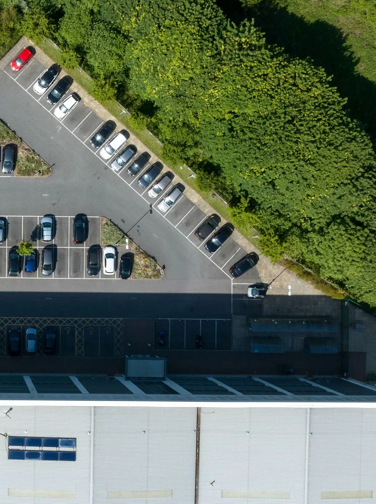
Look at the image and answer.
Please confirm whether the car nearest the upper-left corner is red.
Yes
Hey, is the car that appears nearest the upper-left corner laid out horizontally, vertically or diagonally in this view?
diagonally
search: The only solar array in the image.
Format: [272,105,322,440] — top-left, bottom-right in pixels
[8,436,77,463]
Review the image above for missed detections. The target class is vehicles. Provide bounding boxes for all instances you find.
[24,252,36,274]
[7,248,21,276]
[47,75,74,105]
[2,146,14,174]
[127,150,152,176]
[111,144,137,171]
[25,328,36,353]
[157,185,185,213]
[194,214,221,241]
[101,129,130,160]
[137,161,164,189]
[229,252,259,278]
[0,219,6,244]
[33,63,61,94]
[9,46,35,73]
[205,223,235,252]
[41,217,54,243]
[147,173,173,199]
[90,119,117,148]
[102,246,116,275]
[86,247,100,275]
[41,248,54,276]
[246,285,266,298]
[118,256,132,279]
[73,217,85,244]
[54,91,81,119]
